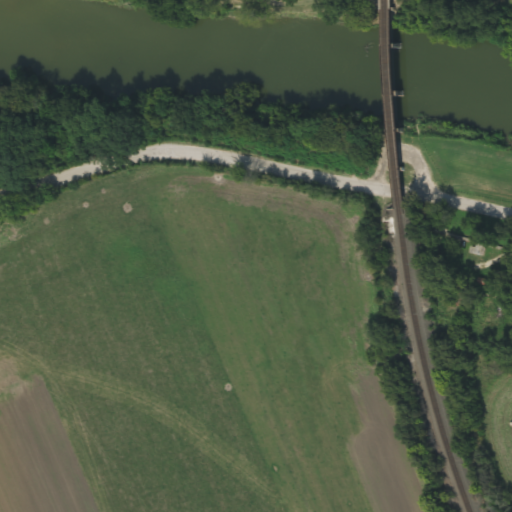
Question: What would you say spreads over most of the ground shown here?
grass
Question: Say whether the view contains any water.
Yes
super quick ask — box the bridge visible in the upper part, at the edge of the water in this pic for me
[376,0,408,212]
